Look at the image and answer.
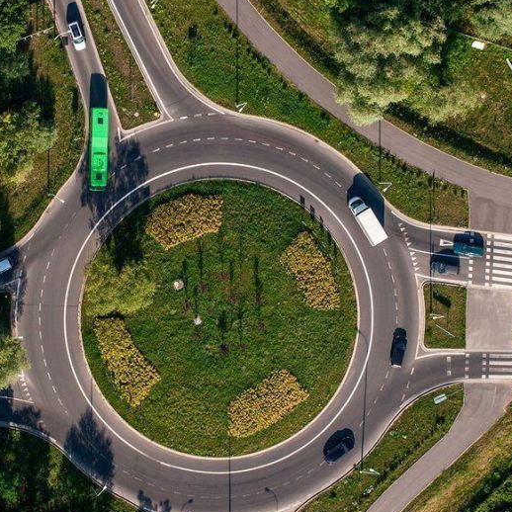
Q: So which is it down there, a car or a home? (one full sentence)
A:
Of the two, only a car appears.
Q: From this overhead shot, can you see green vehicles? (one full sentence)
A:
Yes, you can see a green vehicle in this photo.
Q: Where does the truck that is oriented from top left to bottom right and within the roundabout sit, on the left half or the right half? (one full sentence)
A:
The truck that is oriented from top left to bottom right and within the roundabout appears in the right half of the scene.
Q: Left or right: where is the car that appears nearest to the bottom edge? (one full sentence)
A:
You can find the car that appears nearest to the bottom edge on the right side of the picture.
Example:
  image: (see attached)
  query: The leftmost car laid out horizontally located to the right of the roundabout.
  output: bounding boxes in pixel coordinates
[430,260,460,275]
